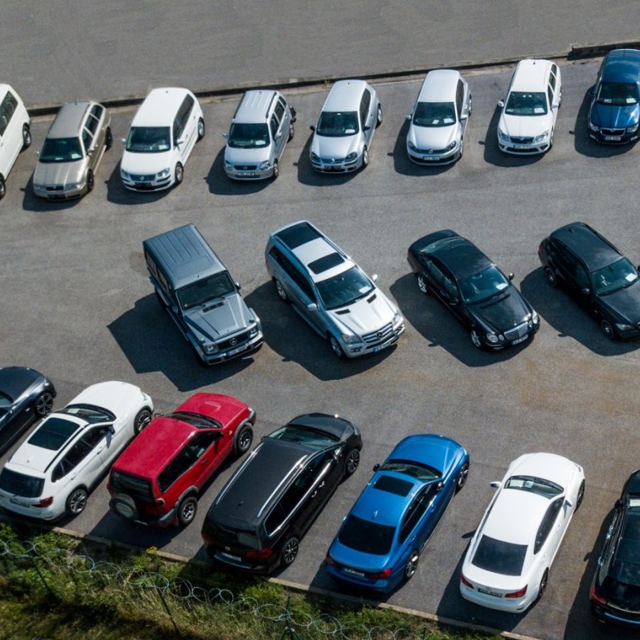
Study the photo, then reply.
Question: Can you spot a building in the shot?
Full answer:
No, the frame has no building in it.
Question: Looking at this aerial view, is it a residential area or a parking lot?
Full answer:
The picture captures a parking lot.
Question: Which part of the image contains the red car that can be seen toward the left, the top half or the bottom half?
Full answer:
Seen from above, the red car that can be seen toward the left lies in the bottom half of the view.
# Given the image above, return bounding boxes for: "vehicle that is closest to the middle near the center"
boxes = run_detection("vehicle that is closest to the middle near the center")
[261,221,403,362]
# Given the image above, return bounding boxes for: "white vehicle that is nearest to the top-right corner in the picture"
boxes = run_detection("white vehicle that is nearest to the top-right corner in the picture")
[498,56,564,153]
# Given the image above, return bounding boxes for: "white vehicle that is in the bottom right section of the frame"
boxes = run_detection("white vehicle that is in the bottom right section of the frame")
[460,451,590,614]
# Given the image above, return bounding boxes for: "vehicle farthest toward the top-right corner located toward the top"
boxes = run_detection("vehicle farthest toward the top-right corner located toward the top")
[588,49,640,142]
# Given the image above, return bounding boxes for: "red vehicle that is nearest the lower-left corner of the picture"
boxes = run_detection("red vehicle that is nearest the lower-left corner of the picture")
[106,393,264,536]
